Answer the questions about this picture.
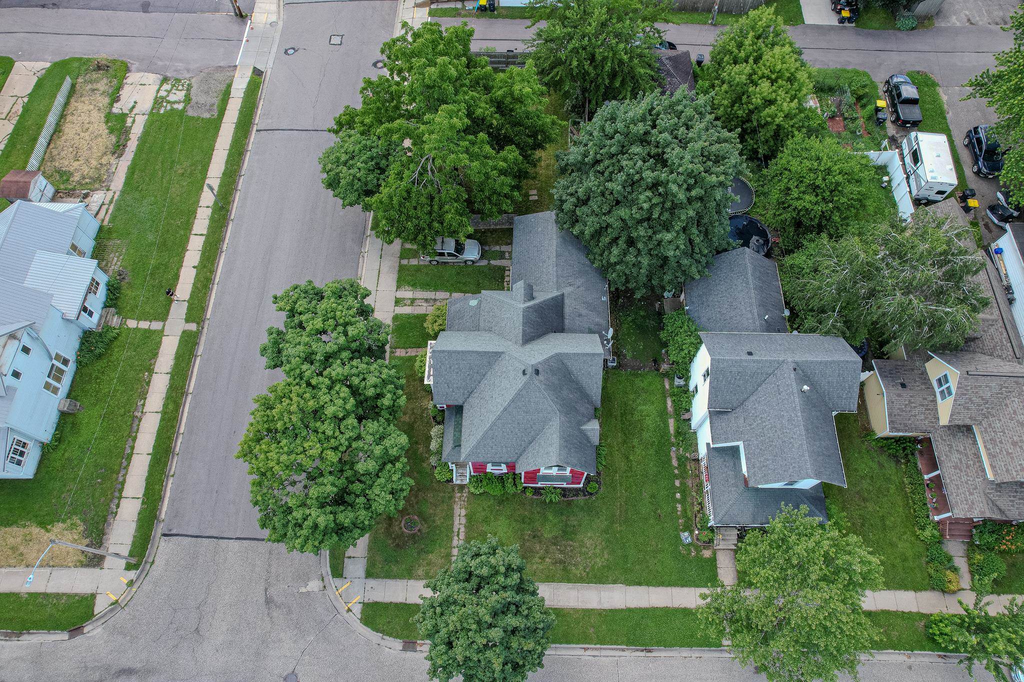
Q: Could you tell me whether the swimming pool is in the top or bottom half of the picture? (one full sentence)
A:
It is in the top half that the swimming pool appears.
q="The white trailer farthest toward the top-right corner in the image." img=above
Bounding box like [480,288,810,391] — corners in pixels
[899,130,959,204]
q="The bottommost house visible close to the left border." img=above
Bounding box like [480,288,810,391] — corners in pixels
[0,193,128,480]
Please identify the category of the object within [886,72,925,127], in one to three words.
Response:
truck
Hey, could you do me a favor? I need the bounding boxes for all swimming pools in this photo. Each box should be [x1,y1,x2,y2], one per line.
[714,211,773,257]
